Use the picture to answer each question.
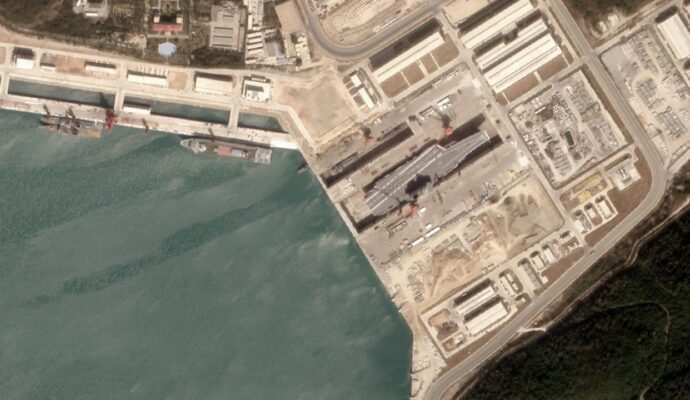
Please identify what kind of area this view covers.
port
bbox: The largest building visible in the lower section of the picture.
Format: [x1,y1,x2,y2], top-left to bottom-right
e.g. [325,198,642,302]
[465,300,508,335]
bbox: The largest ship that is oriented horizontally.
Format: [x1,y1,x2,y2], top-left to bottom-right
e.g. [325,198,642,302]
[180,139,272,163]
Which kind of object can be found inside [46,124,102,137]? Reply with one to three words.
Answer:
ship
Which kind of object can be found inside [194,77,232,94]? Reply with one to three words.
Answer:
building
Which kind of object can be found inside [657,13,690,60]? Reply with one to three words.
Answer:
building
